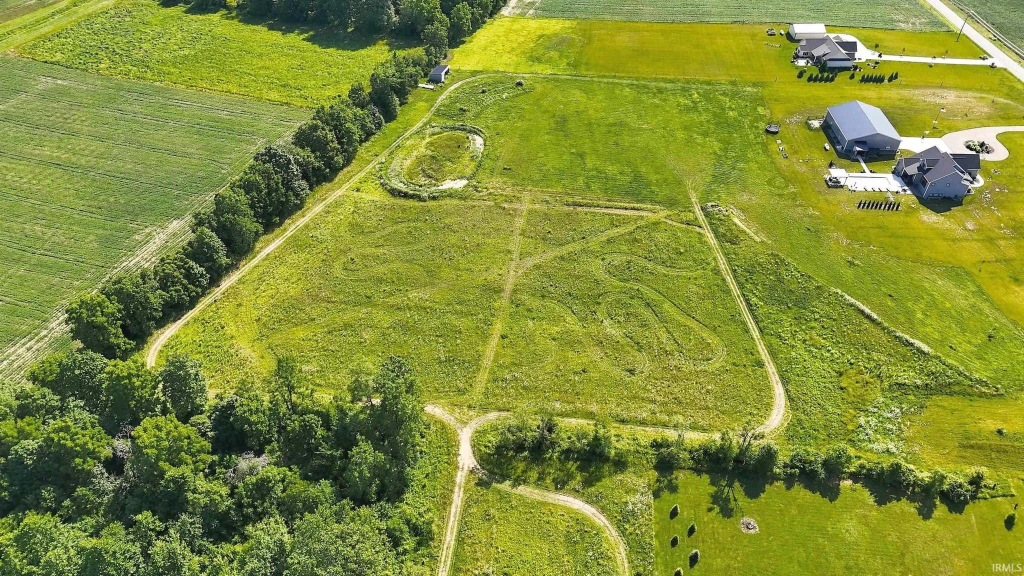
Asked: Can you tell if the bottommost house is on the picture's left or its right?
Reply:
right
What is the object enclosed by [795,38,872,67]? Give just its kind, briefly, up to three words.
house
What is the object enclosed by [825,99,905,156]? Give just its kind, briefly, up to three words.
barn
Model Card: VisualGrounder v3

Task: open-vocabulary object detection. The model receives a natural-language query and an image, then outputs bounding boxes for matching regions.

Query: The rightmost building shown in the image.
[886,139,992,198]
